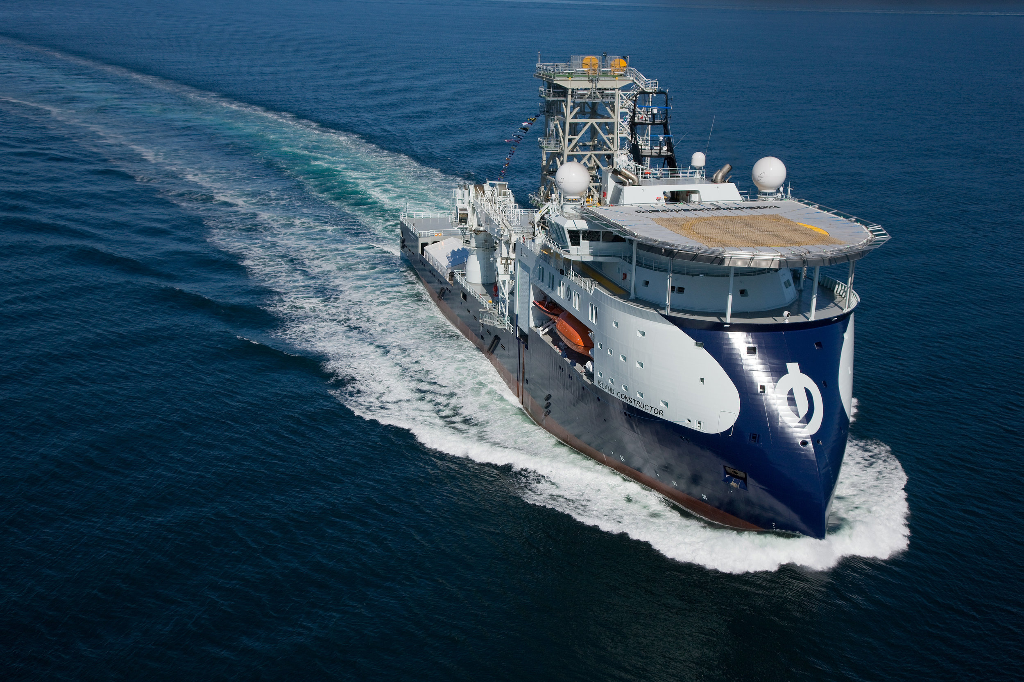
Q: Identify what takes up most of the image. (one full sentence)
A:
Most of the picture is covered by water.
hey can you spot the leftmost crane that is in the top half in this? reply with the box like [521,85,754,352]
[450,180,520,298]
